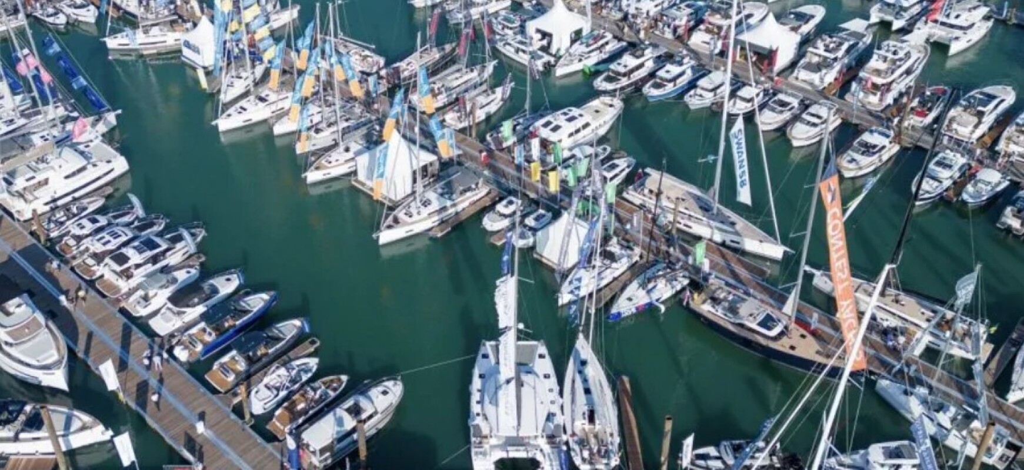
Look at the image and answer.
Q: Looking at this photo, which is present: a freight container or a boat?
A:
boat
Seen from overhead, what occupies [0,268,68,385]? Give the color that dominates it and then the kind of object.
white boat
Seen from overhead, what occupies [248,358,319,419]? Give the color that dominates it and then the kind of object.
white boat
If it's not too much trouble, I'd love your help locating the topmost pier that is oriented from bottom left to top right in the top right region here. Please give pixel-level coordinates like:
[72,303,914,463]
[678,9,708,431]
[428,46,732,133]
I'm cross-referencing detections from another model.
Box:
[817,61,867,96]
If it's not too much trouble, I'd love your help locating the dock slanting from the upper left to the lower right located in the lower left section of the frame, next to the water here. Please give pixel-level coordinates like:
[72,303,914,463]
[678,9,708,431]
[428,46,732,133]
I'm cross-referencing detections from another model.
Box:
[0,214,286,470]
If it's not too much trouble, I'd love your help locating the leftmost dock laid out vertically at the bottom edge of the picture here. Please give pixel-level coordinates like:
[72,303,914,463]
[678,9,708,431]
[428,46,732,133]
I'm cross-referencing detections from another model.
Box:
[616,379,647,470]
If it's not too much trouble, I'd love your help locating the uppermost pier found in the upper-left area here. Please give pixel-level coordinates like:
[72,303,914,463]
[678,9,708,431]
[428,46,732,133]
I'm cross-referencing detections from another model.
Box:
[97,0,191,39]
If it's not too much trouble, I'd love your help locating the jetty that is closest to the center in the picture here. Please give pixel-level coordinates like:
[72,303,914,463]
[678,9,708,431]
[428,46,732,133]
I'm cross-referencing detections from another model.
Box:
[488,215,531,248]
